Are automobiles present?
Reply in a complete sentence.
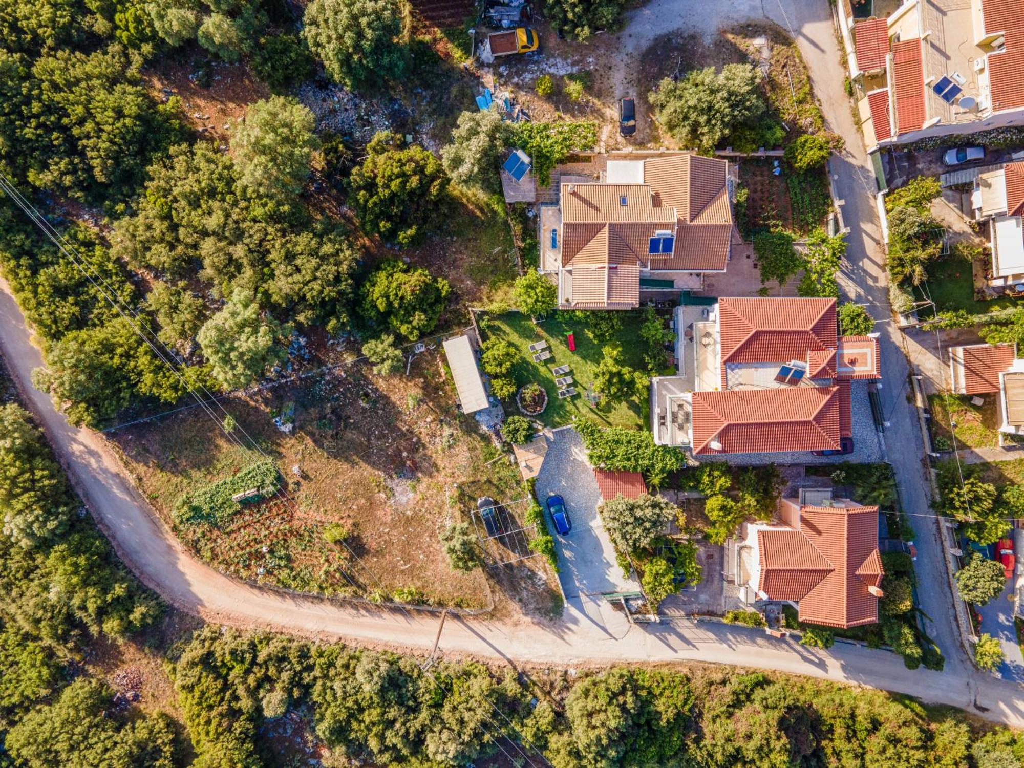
Yes, an automobile is visible in the scene.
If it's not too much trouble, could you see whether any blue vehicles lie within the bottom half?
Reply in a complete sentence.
Yes, within the bottom half there is a blue vehicle.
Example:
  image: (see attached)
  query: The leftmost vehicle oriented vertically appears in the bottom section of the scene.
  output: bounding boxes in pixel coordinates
[479,496,502,538]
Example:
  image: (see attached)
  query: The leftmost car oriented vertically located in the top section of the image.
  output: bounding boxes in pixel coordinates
[617,98,638,140]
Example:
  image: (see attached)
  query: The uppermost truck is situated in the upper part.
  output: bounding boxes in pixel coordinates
[487,26,540,56]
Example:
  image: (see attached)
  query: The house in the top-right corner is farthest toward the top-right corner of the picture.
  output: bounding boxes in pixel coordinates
[847,0,1024,148]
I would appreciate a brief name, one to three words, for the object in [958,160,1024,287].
house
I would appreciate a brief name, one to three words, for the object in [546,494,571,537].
car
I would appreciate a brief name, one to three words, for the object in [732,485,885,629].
house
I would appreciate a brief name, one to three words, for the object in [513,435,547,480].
shed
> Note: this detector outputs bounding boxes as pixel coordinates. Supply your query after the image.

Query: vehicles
[546,494,571,537]
[940,145,985,168]
[487,26,540,56]
[993,539,1017,578]
[1011,149,1024,162]
[479,496,502,538]
[811,437,854,457]
[617,98,638,140]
